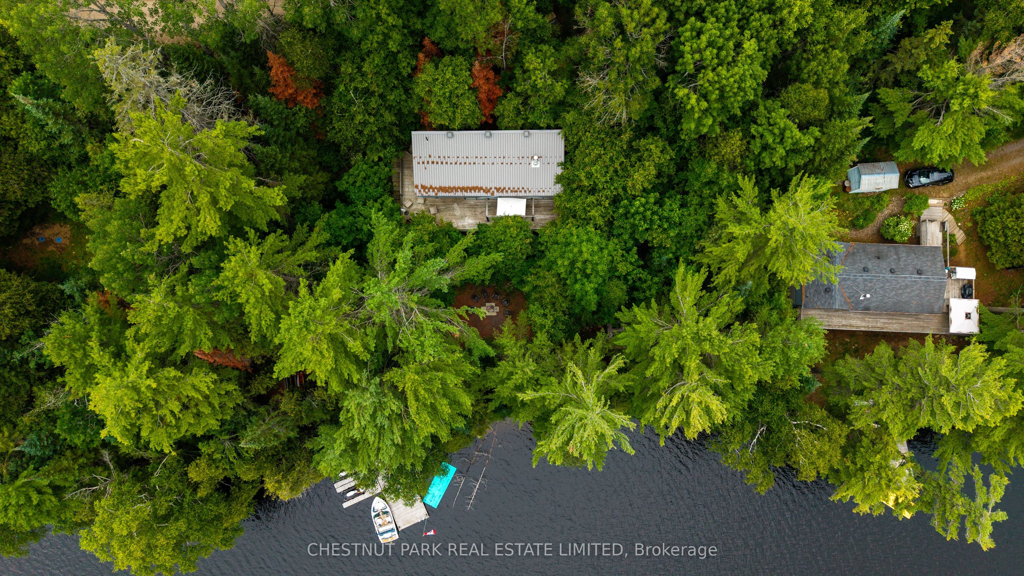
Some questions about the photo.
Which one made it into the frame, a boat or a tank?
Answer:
boat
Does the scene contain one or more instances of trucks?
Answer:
No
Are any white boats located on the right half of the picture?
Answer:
No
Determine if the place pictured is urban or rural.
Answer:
rural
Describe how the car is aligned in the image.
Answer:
horizontally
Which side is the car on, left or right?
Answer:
right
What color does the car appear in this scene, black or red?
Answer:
black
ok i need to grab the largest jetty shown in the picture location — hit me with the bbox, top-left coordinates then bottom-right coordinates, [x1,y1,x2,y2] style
[380,478,429,531]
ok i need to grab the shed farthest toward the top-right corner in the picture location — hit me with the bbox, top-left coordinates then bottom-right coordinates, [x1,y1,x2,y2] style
[844,161,899,194]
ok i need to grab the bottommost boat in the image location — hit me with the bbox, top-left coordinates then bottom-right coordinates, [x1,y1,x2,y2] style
[372,496,398,543]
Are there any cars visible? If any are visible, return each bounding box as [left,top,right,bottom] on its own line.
[903,168,953,190]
